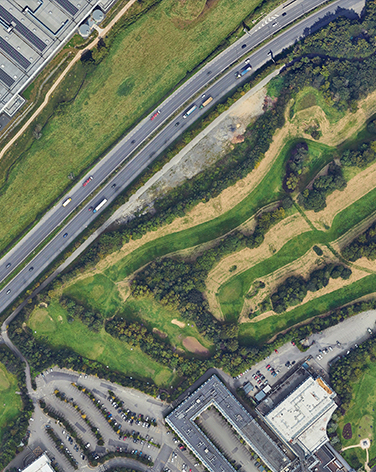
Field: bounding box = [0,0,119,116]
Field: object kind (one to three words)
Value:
building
